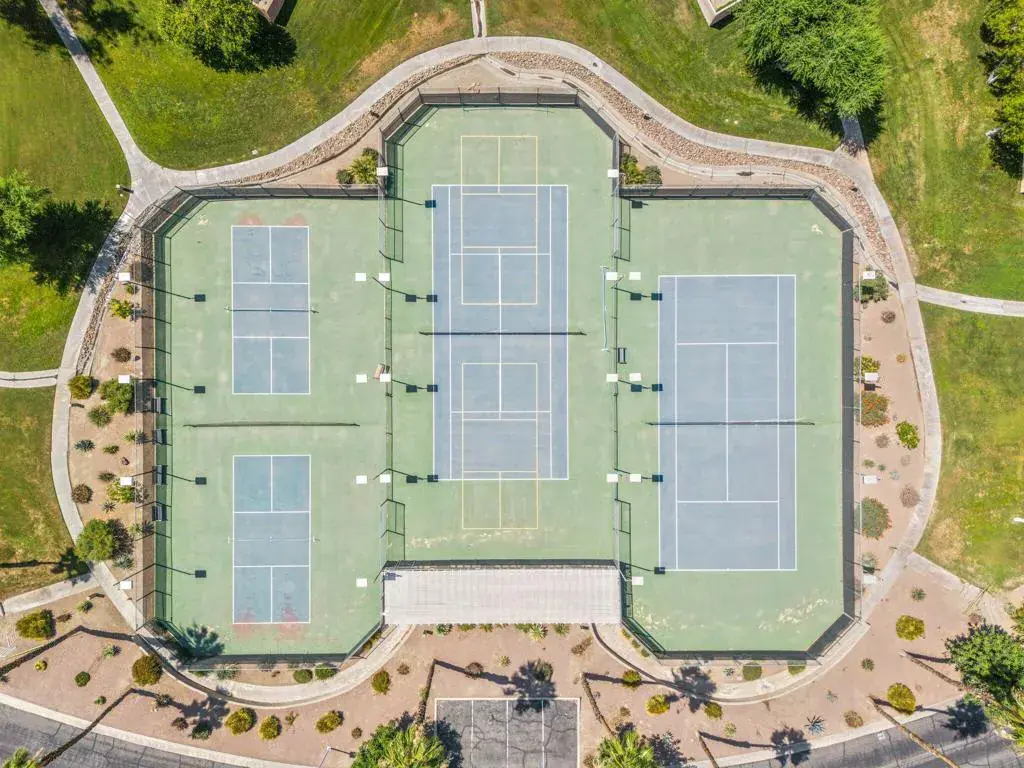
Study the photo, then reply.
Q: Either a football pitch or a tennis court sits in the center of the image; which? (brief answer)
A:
tennis court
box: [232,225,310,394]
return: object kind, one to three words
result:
sports court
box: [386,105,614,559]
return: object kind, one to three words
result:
tennis court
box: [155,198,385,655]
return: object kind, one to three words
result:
sports court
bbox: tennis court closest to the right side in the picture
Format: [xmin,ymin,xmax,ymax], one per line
[614,198,844,652]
